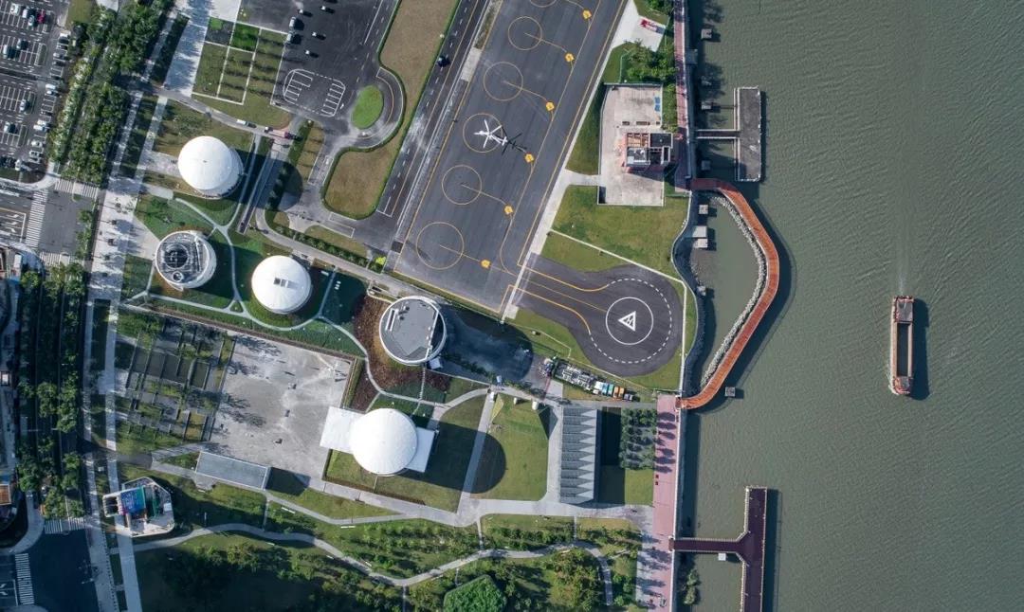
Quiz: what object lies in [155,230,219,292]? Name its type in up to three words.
storage tank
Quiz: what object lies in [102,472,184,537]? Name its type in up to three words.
building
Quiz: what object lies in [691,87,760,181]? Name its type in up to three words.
pier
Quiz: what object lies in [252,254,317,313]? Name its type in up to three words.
storage tank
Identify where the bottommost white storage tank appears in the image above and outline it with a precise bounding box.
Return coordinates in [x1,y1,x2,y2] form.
[320,401,435,477]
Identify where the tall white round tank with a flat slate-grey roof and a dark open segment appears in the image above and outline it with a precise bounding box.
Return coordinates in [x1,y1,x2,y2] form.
[378,296,451,365]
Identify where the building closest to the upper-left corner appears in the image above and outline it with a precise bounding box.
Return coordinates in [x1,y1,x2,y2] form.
[0,248,33,276]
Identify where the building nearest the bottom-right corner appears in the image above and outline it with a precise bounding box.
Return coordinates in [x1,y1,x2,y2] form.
[559,406,601,504]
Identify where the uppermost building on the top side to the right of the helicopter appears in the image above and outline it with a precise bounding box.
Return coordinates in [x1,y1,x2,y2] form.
[621,132,683,172]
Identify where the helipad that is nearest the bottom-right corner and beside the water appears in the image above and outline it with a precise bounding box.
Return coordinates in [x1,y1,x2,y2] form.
[508,254,684,376]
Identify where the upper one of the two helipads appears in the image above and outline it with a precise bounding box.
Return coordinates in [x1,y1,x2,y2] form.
[395,0,626,314]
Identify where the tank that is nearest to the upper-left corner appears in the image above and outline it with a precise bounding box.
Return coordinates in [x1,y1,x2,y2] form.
[177,135,245,197]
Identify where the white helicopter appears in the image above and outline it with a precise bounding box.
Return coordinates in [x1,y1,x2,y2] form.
[474,120,508,150]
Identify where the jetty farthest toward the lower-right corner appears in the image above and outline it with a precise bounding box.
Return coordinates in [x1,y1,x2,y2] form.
[676,487,767,612]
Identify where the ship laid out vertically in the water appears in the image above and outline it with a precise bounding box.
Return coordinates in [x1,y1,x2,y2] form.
[890,296,915,394]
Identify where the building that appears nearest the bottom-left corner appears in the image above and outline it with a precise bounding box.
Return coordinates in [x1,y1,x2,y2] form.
[0,468,36,543]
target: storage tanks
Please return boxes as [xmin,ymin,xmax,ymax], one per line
[320,401,435,477]
[378,296,451,365]
[177,135,245,197]
[252,254,317,313]
[155,230,219,292]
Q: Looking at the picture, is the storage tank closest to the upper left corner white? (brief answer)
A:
Yes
